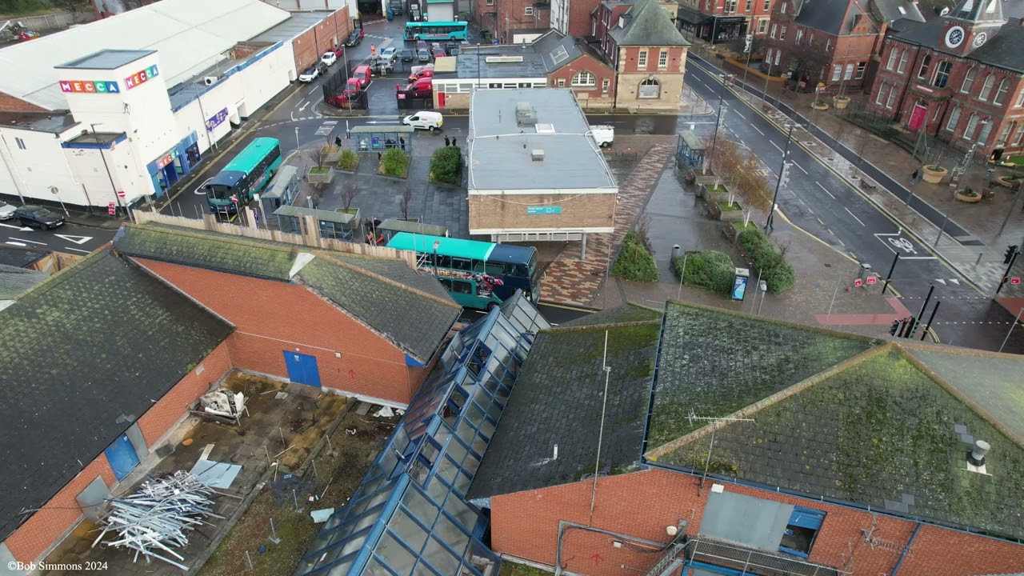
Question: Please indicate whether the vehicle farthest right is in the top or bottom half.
top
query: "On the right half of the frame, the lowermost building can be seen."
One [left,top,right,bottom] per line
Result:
[461,298,1024,576]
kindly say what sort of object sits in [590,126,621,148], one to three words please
vehicle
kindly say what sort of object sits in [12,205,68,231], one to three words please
car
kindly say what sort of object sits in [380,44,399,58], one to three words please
car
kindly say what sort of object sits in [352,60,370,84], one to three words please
vehicle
